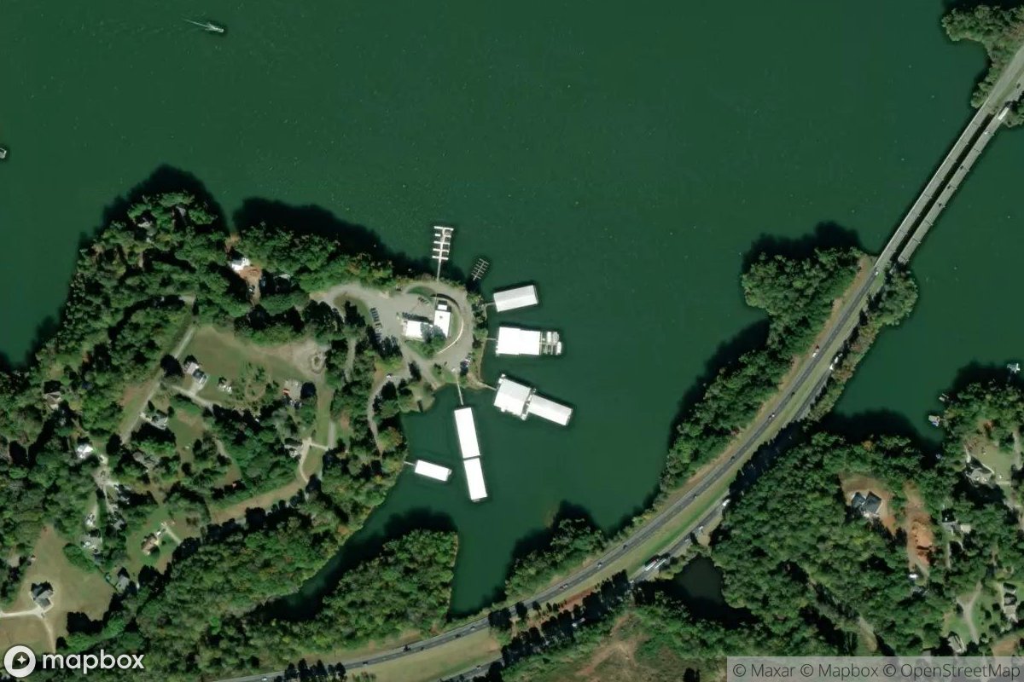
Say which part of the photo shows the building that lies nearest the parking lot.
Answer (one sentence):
You can find the building that lies nearest the parking lot in the center area of the picture.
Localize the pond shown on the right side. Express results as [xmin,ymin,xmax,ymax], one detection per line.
[672,556,754,629]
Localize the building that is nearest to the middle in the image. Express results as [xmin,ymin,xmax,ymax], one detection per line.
[402,302,450,339]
